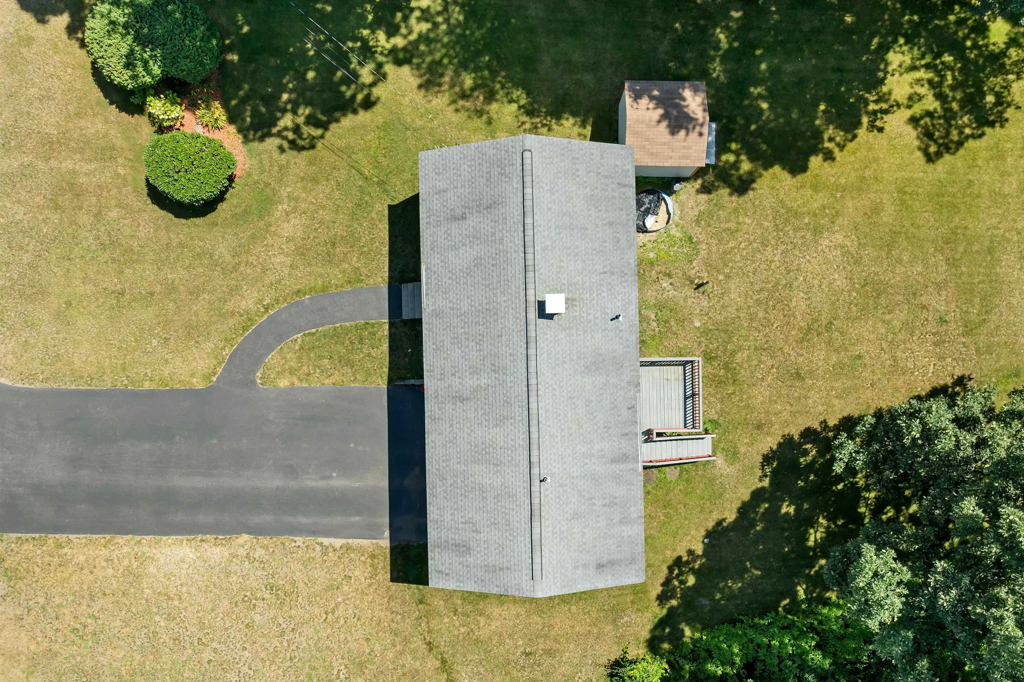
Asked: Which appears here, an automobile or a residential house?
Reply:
residential house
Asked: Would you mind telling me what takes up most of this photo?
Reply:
grass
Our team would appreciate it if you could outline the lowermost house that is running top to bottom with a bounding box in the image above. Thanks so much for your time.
[417,136,646,599]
